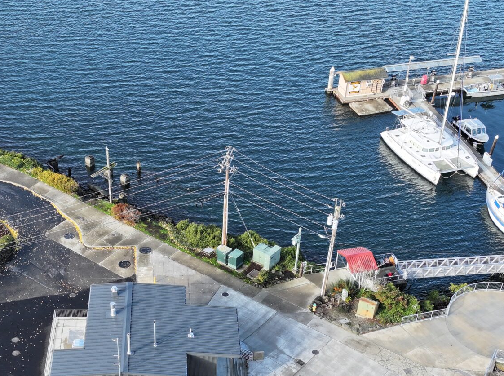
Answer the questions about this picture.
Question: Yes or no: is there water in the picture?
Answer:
Yes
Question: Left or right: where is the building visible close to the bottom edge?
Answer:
left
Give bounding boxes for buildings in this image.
[336,61,387,98]
[51,281,241,376]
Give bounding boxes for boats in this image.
[462,64,504,100]
[485,167,504,230]
[447,118,488,147]
[376,0,475,186]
